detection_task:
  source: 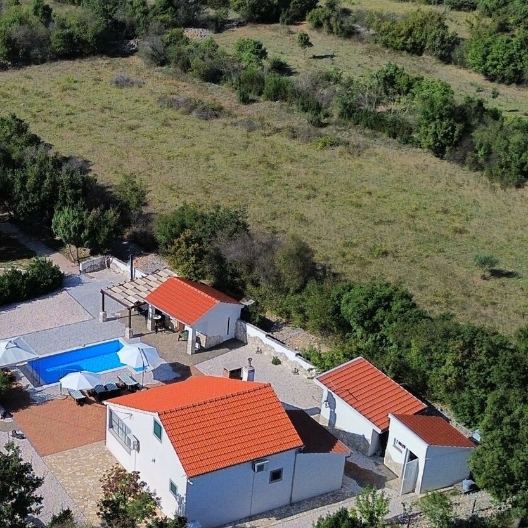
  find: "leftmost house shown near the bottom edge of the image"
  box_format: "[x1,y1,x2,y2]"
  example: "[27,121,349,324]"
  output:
[101,377,353,528]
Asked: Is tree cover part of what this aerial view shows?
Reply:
Yes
